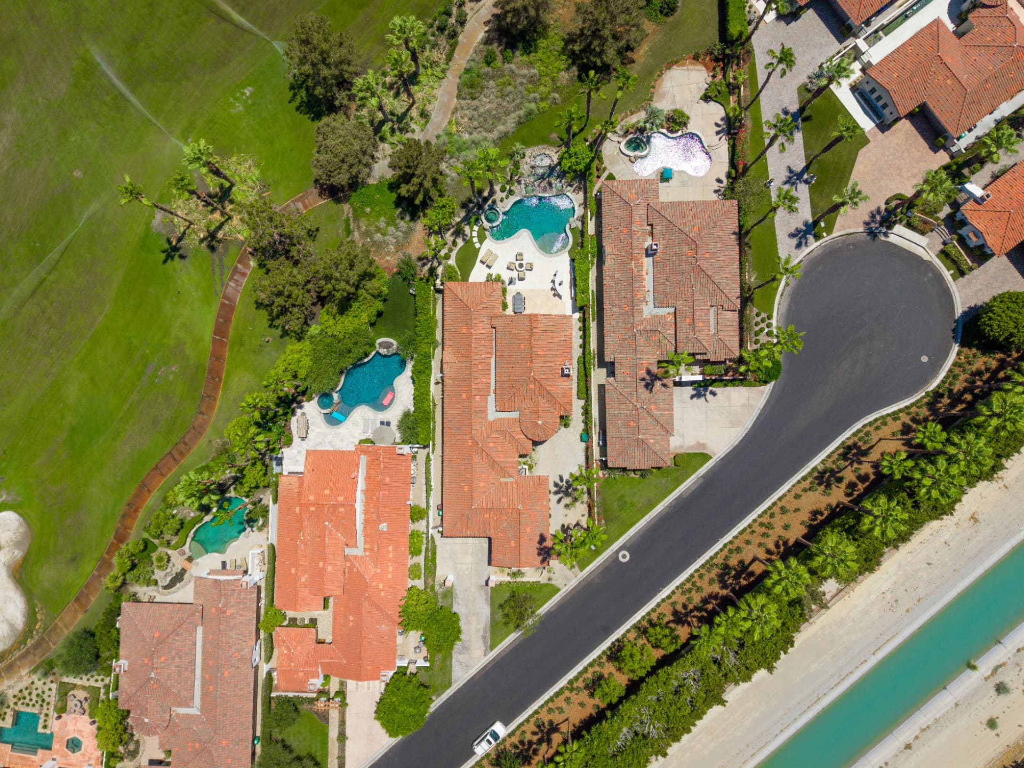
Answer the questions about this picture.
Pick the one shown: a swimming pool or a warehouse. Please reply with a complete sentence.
I can see a swimming pool in this picture.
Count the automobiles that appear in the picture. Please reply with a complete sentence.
My tally gives 1 automobile in this photo.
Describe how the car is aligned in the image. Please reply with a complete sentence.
The car has been laid out on a diagonal relative to the frame.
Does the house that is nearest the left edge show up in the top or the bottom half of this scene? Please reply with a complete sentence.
The house that is nearest the left edge sits in the bottom half of the picture.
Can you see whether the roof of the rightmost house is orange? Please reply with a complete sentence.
Yes, the roof of the rightmost house is indeed orange.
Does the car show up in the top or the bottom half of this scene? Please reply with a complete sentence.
The car sits in the bottom half of the picture.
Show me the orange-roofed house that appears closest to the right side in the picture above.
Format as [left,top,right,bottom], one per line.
[947,160,1024,259]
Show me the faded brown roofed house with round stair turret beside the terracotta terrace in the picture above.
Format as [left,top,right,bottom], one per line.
[113,565,266,768]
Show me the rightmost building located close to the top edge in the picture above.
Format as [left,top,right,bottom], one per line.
[855,0,1024,142]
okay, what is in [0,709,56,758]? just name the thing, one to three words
swimming pool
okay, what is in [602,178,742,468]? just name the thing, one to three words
house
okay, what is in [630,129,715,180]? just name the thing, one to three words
swimming pool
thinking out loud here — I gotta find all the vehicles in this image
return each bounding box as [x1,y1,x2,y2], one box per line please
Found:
[467,721,509,763]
